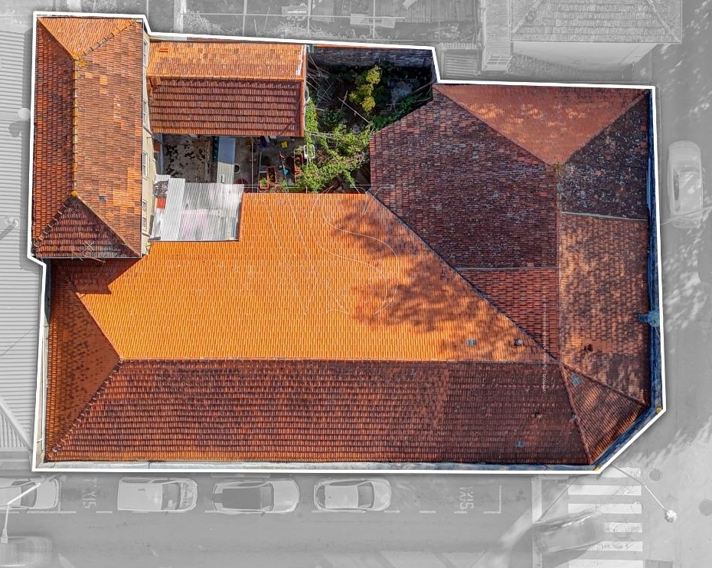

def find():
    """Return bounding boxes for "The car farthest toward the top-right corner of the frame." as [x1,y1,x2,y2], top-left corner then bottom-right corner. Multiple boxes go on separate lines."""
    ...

[665,139,707,229]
